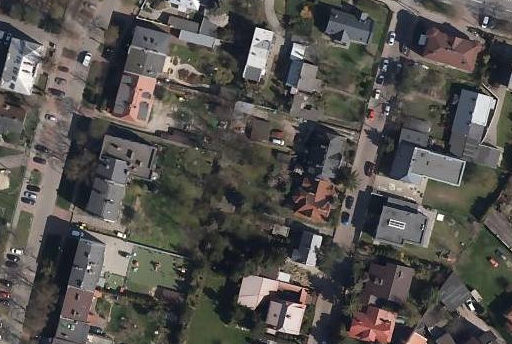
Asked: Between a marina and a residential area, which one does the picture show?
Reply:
residential area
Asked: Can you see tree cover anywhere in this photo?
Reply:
Yes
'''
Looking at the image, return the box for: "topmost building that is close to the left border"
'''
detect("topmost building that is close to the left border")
[1,37,44,96]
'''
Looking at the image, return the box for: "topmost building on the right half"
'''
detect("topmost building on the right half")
[325,8,373,48]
